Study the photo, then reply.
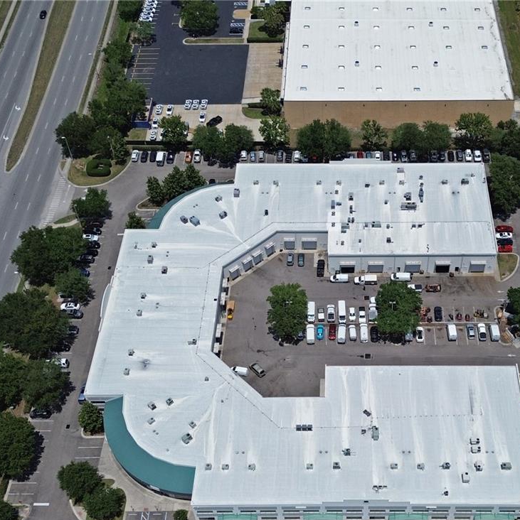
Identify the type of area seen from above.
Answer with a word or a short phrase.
industrial area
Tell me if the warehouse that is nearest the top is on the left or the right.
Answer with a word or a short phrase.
right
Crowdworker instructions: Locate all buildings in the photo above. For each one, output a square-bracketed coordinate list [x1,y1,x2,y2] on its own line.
[84,160,520,520]
[282,0,513,129]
